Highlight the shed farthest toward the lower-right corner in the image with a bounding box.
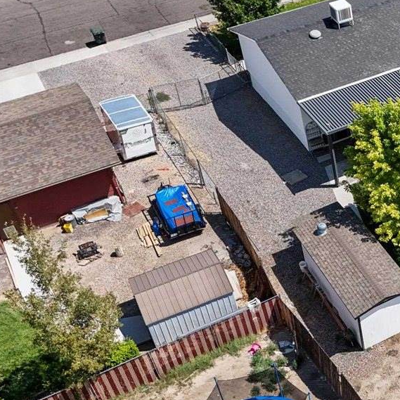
[288,205,400,351]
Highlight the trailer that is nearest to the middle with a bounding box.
[148,179,215,244]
